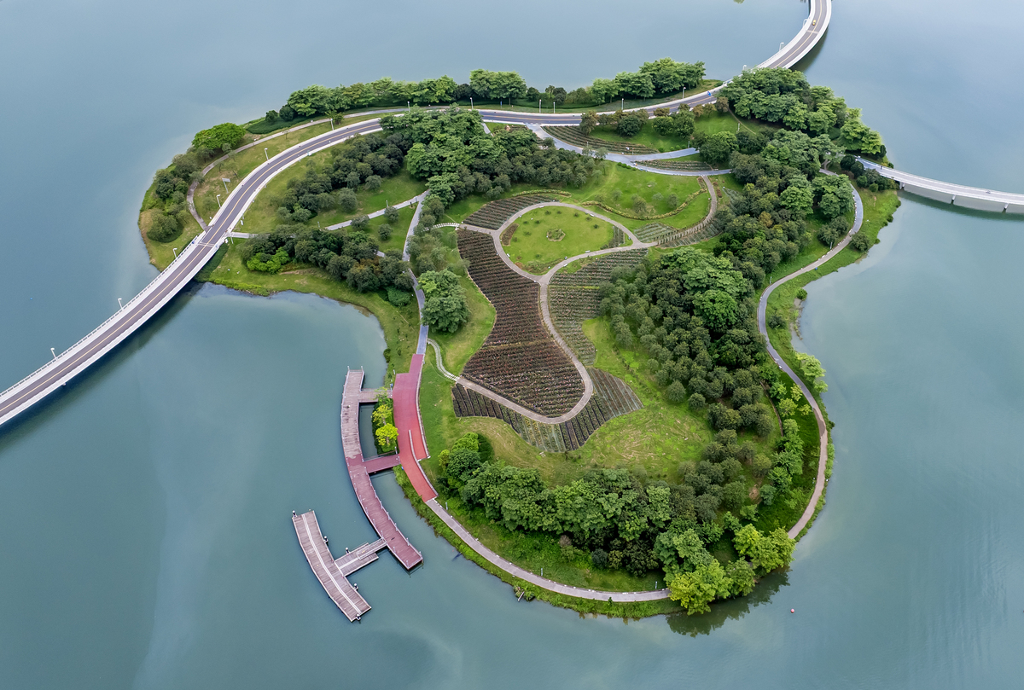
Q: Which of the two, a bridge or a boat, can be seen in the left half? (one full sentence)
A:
There is a bridge in the left half.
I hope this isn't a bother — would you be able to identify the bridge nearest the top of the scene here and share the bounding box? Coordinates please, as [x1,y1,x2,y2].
[717,0,830,87]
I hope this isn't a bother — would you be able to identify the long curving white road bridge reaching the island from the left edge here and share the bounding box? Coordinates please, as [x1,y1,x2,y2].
[0,242,216,424]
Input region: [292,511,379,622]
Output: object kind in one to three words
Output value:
pier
